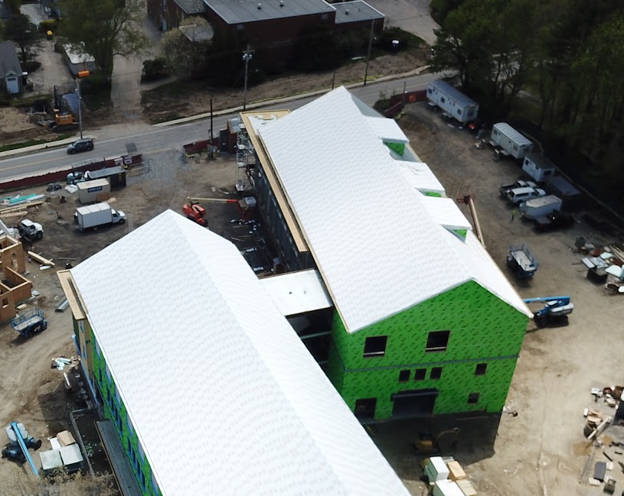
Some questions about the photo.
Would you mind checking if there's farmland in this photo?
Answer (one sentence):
No, no farmland is visible.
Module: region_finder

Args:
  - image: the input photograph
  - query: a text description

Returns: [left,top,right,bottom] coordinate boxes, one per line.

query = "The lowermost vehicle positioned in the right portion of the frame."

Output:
[420,415,463,457]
